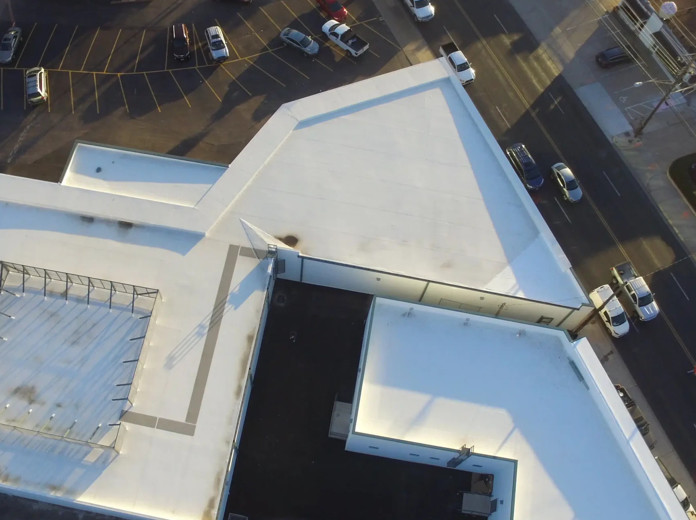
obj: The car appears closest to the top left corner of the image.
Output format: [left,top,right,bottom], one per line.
[0,26,24,64]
